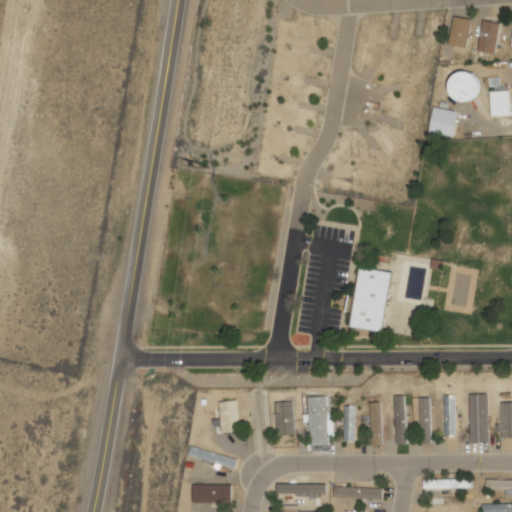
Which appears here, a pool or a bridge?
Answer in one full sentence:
It is a pool that can be seen here.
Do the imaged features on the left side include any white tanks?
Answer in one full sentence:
No, there's no white tank to be seen on the left side.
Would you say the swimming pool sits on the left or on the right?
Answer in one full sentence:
The swimming pool is on the right side of the image.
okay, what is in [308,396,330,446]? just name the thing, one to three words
house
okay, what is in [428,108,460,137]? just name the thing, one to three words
building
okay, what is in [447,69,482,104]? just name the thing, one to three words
storage tank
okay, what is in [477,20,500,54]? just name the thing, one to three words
house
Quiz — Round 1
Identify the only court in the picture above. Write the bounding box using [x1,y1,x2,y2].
[445,266,479,314]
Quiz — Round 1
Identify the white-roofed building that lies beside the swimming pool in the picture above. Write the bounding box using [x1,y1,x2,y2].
[349,268,392,330]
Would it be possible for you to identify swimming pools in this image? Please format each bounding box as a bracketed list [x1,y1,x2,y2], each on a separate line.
[398,262,431,304]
